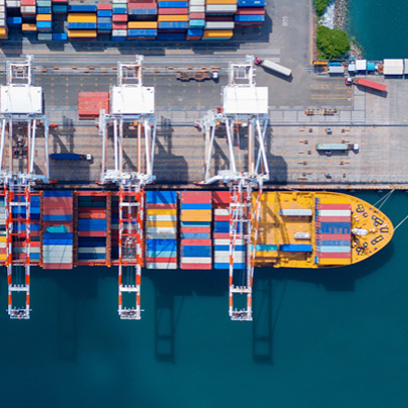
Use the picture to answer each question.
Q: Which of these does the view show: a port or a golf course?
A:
port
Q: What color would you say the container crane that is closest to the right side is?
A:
white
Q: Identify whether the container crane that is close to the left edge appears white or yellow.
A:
white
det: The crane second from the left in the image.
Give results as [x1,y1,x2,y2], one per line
[90,53,161,320]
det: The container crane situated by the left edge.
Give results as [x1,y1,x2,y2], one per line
[0,52,63,320]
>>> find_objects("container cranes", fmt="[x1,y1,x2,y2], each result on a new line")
[187,54,272,321]
[90,53,161,320]
[0,52,63,320]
